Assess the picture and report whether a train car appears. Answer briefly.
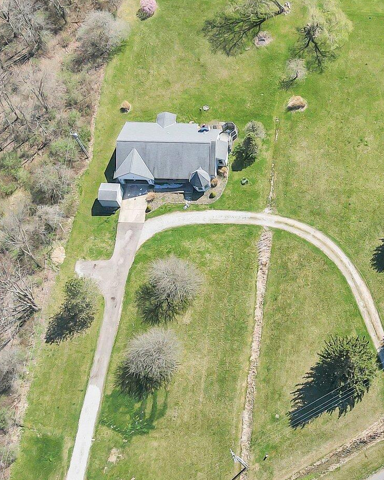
No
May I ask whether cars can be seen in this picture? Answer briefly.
No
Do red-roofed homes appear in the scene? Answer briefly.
No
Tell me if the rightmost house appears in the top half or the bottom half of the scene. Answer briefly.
top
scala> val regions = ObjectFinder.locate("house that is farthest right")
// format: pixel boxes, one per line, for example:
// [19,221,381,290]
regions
[112,108,234,206]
